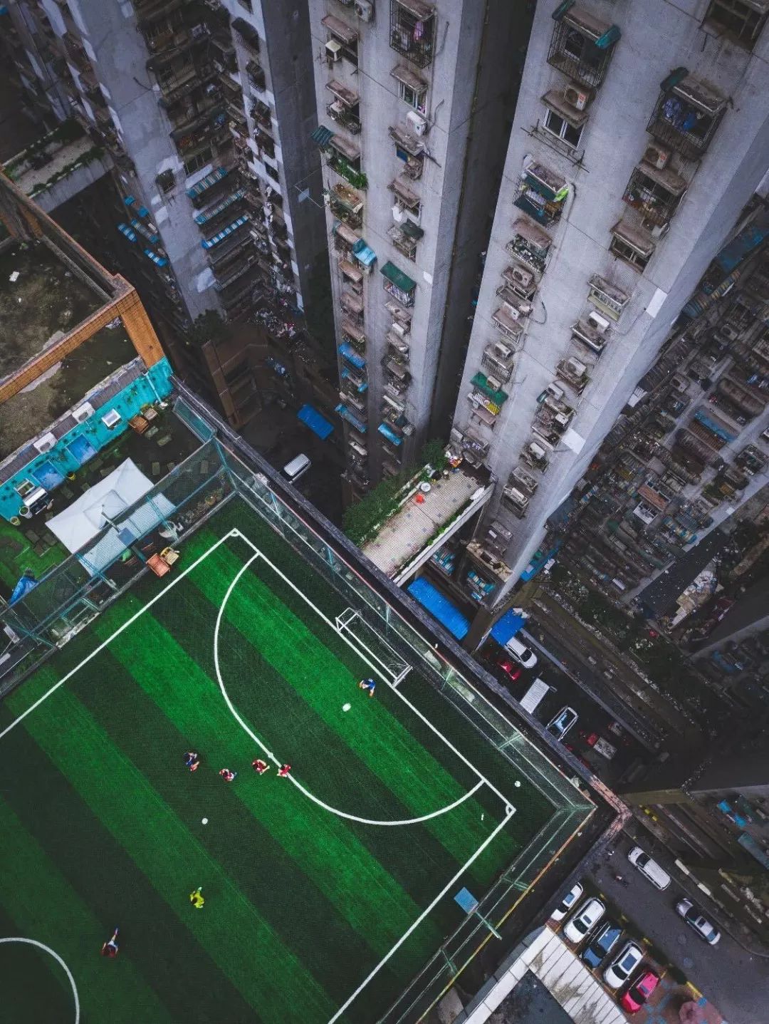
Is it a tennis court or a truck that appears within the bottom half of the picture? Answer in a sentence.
You can see a truck within the bottom half of the picture.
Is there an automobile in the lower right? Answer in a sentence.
Yes, you'll find an automobile in the lower right.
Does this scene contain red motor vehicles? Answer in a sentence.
Yes, looking at the shot, I can spot a red motor vehicle.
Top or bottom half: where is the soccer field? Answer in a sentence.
The bottom half of the photo is where the soccer field is.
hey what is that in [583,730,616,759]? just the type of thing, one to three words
truck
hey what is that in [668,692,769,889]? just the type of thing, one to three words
building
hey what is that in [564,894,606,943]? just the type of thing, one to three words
car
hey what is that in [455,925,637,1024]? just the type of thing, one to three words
building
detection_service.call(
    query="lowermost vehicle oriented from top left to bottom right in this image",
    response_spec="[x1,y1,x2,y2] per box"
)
[674,897,722,947]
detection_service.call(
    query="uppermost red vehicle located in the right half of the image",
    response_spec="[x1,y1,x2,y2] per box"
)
[493,659,519,683]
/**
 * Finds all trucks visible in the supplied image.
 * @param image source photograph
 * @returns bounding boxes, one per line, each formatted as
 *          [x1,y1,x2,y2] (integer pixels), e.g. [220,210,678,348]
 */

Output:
[583,730,616,759]
[521,674,553,713]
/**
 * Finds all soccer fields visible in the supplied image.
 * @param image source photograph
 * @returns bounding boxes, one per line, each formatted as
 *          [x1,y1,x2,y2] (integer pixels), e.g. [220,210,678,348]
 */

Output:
[0,493,558,1024]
